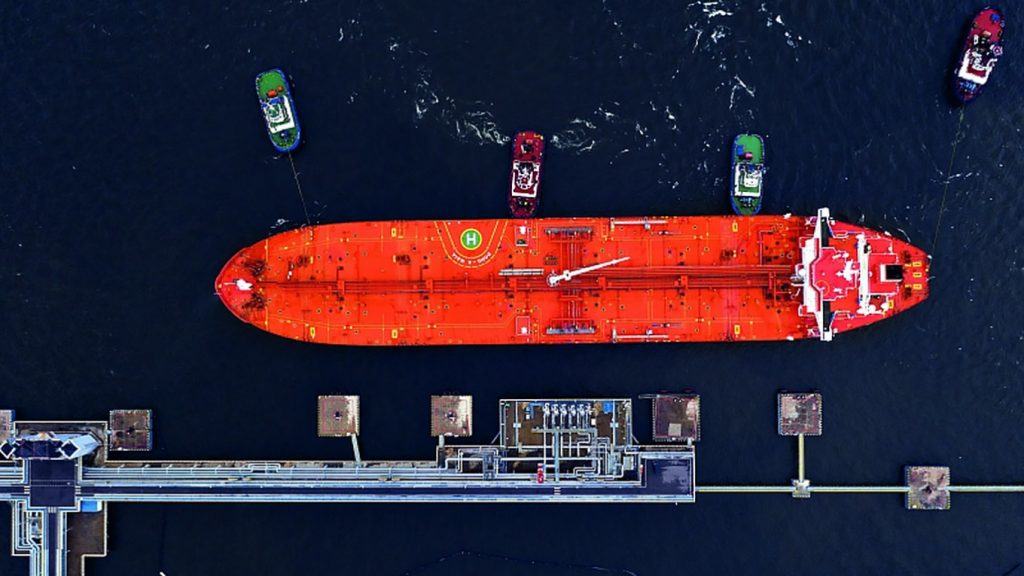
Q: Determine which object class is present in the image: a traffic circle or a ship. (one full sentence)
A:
It is a ship that can be seen here.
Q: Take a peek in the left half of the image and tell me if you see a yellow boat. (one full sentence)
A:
No, the scene shows no yellow boat in the left half of the image.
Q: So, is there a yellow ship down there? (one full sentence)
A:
No, there is no yellow ship in the image.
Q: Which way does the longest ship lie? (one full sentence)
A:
I'd say the longest ship is aligned horizontally in the picture.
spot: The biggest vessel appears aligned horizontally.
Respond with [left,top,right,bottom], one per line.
[212,207,932,346]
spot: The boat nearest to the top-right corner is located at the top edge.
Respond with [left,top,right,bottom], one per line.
[948,5,1003,104]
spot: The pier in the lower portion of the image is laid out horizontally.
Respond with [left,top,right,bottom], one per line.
[0,399,695,576]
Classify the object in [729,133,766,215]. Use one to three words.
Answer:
boat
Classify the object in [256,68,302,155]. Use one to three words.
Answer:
boat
